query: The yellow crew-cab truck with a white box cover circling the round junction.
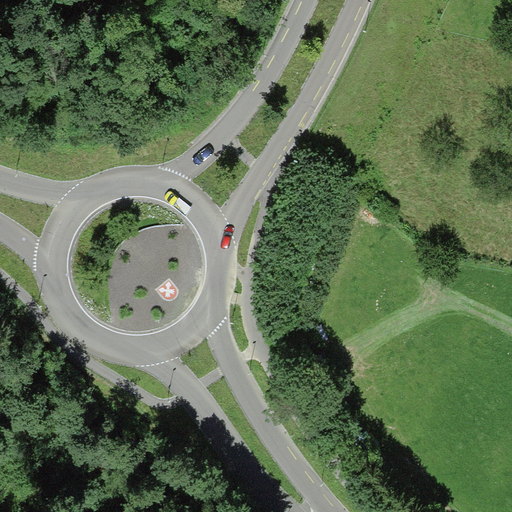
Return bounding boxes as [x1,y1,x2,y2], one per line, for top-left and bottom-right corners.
[165,194,192,216]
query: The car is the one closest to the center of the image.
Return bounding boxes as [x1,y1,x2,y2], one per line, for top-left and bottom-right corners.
[221,226,234,249]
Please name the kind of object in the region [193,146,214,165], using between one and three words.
car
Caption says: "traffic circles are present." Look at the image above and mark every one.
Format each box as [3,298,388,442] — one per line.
[38,166,236,364]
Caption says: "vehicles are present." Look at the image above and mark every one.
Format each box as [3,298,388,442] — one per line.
[221,226,234,249]
[165,194,192,216]
[193,146,214,165]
